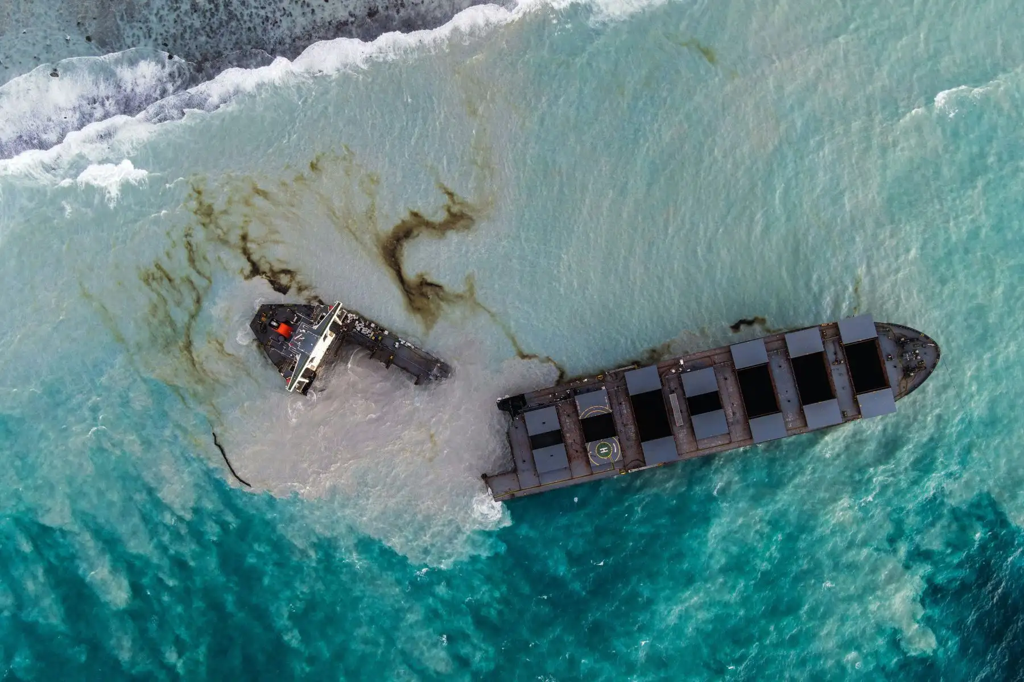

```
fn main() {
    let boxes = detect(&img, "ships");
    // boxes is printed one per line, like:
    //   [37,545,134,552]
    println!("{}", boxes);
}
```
[480,313,940,502]
[250,301,450,396]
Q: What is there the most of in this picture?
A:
water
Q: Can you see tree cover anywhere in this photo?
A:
No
